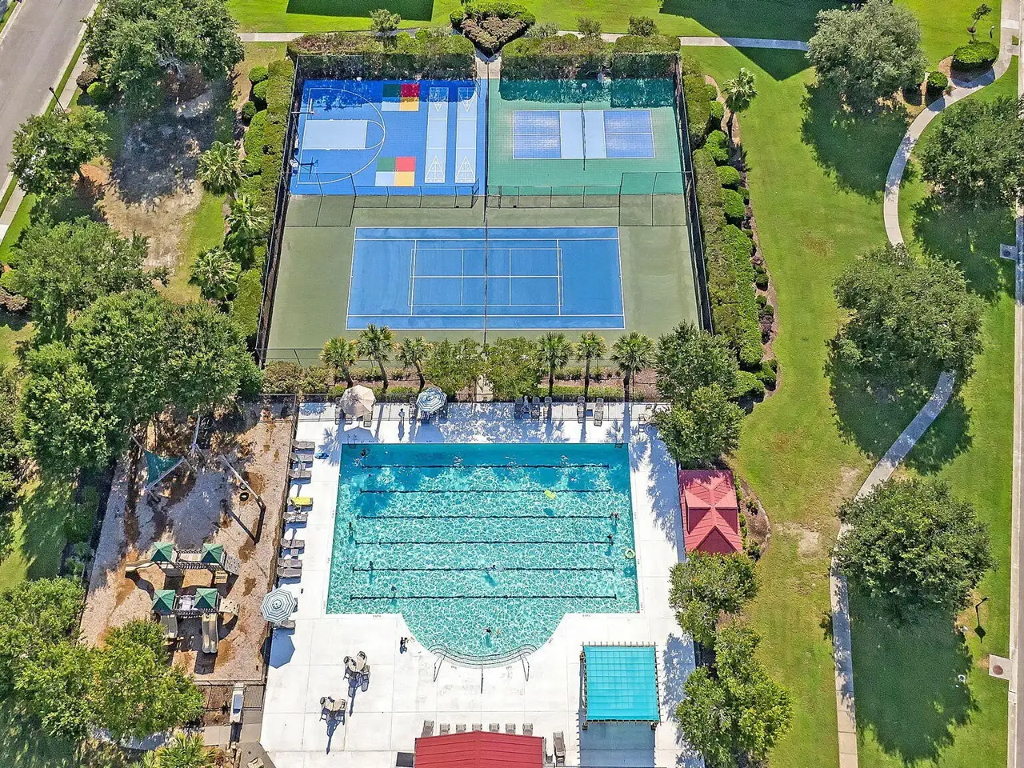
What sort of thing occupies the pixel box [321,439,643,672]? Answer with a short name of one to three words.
swimming pool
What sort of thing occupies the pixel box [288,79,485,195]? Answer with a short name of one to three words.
basketball court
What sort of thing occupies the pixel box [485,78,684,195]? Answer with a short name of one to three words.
sports court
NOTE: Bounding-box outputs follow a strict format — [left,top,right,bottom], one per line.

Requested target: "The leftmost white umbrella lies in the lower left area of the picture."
[259,593,298,631]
